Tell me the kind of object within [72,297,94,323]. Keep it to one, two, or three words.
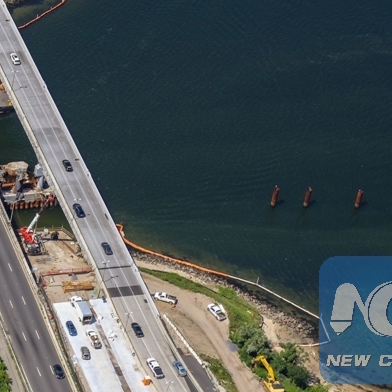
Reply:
truck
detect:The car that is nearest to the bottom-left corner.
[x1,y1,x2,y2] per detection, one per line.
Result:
[53,364,65,379]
